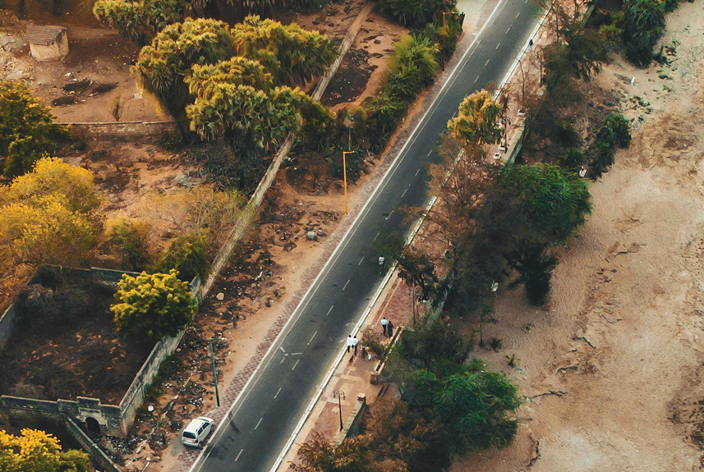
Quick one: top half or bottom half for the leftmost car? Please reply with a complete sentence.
The leftmost car sits in the bottom half of the picture.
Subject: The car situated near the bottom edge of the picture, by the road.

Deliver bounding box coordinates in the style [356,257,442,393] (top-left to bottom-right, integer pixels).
[179,417,214,452]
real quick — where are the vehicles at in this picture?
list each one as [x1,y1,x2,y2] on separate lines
[375,257,385,275]
[179,417,214,452]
